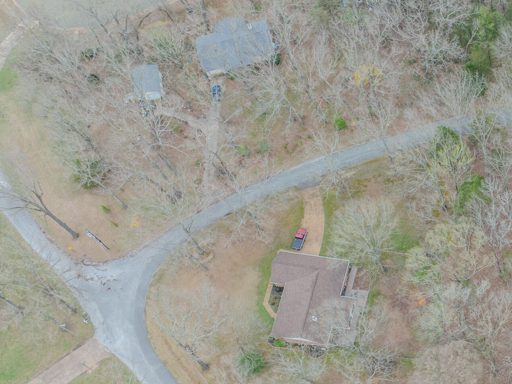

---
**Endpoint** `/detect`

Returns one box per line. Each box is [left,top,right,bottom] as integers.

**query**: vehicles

[291,228,308,252]
[210,83,222,105]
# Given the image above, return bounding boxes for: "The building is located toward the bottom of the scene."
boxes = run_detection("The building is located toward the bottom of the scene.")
[270,247,357,345]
